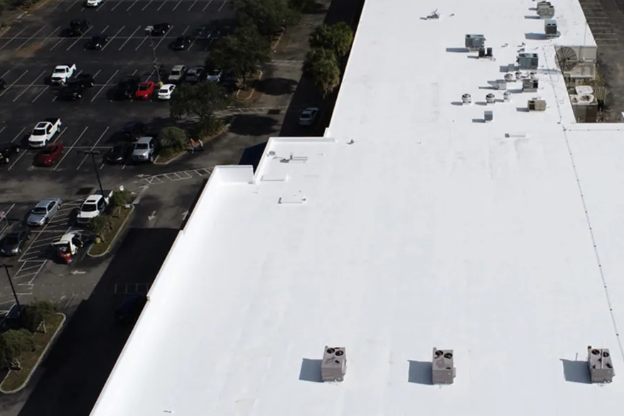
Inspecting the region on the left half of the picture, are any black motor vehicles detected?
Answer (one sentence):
Yes, on the left half of the picture there is a black motor vehicle.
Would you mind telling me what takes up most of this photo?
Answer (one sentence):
The largest share of the image is taken up by buildings.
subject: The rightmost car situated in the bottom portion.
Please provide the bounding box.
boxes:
[112,294,148,325]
